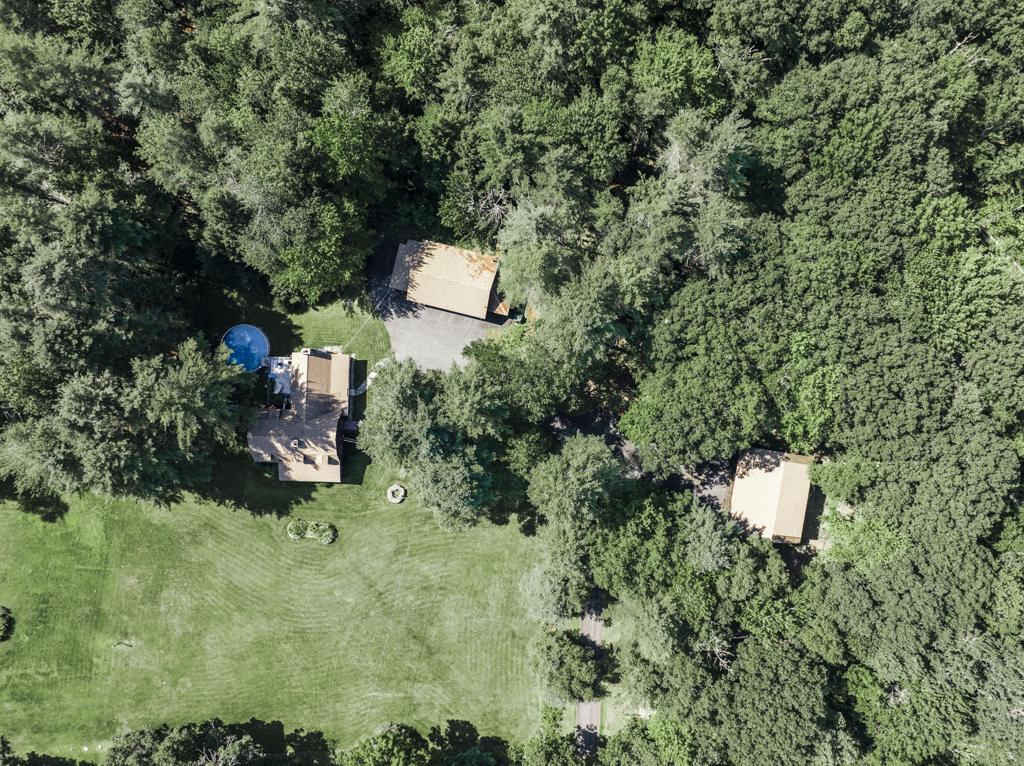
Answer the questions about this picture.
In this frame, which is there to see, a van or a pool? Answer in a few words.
pool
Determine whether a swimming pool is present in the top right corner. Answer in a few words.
No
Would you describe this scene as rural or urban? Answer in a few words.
rural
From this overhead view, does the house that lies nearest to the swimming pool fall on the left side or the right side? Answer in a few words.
left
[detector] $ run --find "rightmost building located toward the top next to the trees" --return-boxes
[389,239,508,319]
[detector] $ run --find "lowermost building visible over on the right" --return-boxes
[725,447,809,542]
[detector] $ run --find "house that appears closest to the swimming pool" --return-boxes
[246,347,352,483]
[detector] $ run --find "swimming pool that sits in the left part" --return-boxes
[220,324,271,372]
